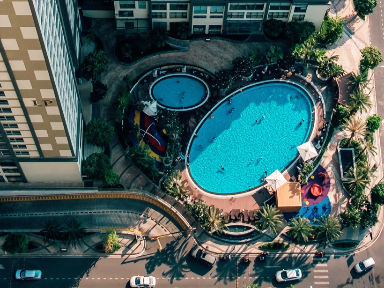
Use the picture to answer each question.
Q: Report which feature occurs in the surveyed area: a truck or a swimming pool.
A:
swimming pool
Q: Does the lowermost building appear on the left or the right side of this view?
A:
right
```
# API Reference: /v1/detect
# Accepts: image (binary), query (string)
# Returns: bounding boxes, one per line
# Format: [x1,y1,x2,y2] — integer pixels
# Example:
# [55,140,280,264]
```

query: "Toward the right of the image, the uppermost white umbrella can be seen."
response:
[297,142,318,162]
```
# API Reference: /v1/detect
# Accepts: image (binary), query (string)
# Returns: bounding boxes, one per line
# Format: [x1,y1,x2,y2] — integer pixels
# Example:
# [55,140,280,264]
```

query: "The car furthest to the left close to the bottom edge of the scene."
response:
[16,267,42,281]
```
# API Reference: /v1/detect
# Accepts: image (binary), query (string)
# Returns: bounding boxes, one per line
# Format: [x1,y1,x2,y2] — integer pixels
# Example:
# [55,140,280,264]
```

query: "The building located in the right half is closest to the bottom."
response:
[274,182,302,211]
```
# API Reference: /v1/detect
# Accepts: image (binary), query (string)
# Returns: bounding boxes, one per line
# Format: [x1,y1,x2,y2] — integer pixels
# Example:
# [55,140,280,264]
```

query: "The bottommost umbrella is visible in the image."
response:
[264,169,287,191]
